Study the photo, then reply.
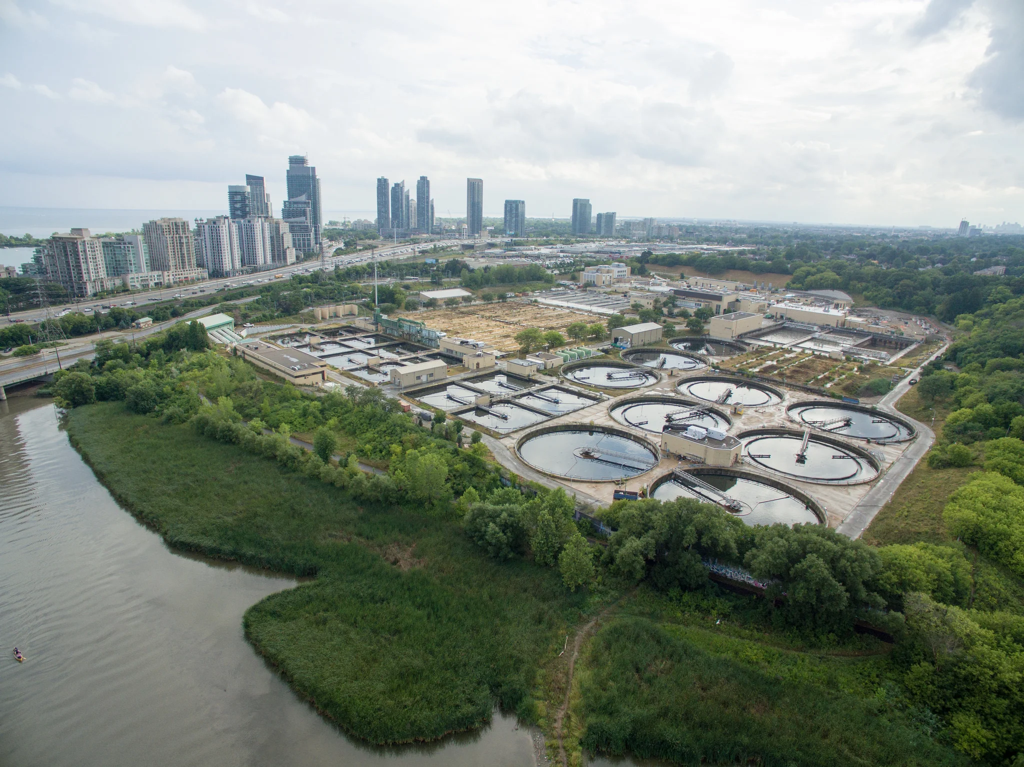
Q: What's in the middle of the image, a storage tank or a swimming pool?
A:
storage tank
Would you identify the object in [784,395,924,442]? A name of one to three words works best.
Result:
storage tank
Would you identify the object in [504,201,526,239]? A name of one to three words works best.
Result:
building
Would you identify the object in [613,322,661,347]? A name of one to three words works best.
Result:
shed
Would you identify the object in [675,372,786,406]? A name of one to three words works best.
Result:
storage tank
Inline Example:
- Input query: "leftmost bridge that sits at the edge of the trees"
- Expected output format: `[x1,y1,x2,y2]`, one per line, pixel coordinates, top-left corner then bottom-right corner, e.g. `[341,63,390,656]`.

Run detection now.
[0,336,128,401]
